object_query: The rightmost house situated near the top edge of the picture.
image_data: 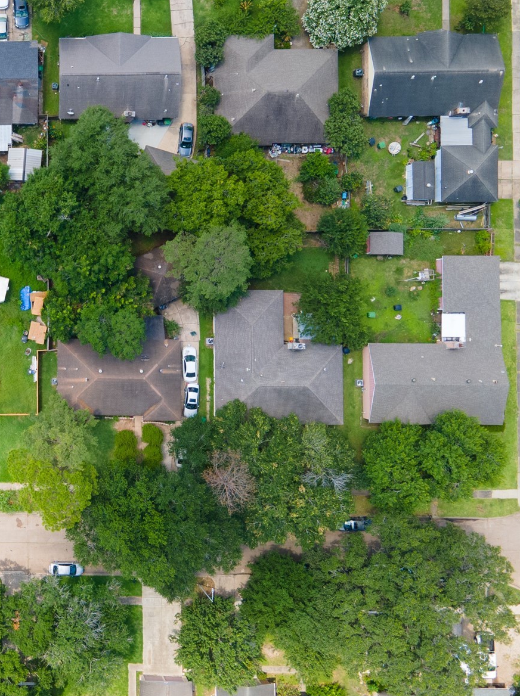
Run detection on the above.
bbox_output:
[363,31,515,203]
